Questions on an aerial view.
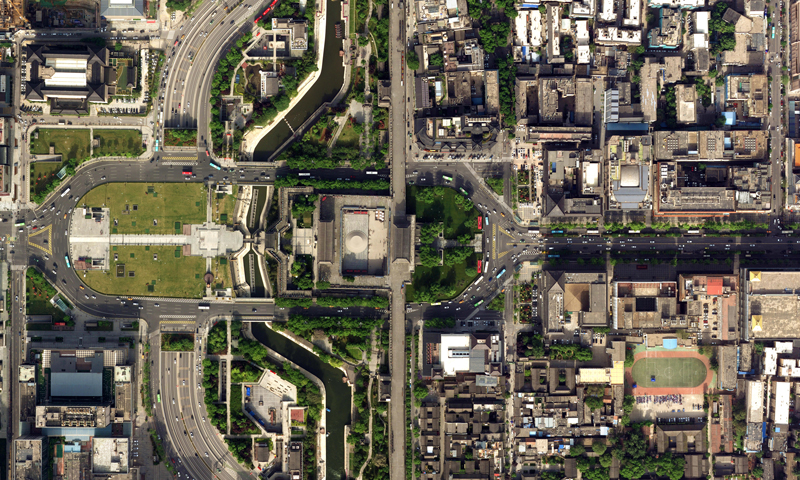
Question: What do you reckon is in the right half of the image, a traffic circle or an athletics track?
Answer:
athletics track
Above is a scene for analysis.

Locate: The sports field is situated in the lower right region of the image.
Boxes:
[632,358,707,387]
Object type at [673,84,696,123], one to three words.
building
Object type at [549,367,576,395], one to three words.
house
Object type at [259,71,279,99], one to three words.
house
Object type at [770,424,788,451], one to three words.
building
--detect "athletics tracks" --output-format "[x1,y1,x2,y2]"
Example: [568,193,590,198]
[626,351,714,396]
